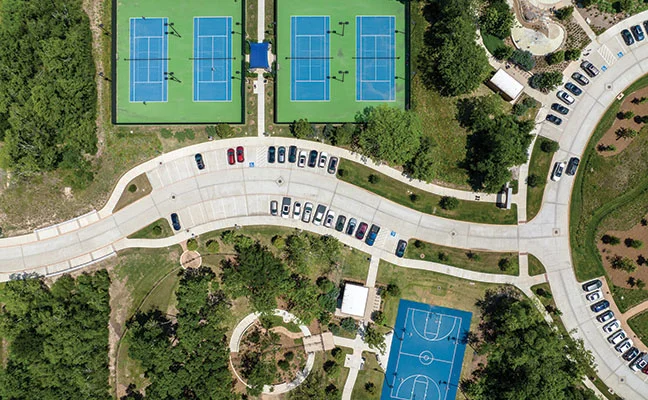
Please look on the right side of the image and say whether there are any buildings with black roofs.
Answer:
No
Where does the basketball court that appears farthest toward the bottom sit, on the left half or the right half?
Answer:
right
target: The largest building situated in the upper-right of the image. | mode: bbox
[489,68,525,99]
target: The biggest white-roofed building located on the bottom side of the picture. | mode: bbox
[342,282,368,316]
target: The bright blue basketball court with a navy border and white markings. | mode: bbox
[382,297,473,400]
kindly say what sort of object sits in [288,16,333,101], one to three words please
tennis court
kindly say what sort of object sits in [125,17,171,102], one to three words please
tennis court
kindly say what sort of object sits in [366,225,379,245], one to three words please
vehicle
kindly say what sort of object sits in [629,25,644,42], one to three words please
car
